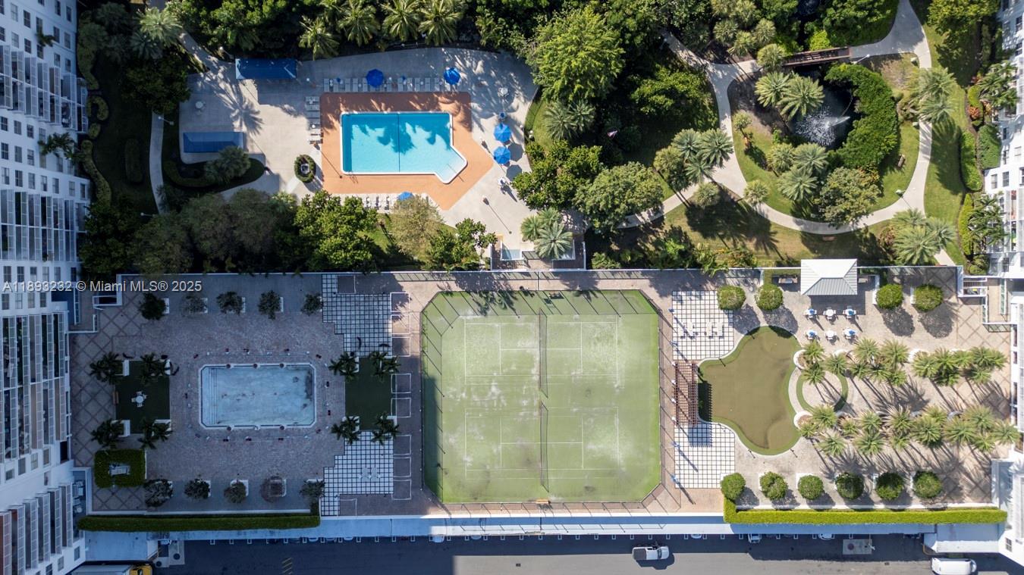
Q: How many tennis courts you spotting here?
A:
2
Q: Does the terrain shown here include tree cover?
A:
Yes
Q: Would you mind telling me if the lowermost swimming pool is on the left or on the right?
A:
left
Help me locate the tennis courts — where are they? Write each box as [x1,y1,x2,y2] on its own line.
[422,291,660,396]
[423,396,661,503]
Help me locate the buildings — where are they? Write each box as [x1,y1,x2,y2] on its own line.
[979,0,1024,554]
[795,259,858,295]
[0,0,102,575]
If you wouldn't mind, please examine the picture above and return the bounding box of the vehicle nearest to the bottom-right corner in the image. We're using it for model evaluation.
[929,555,972,574]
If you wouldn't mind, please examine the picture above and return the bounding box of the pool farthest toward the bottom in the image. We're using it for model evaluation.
[199,363,316,429]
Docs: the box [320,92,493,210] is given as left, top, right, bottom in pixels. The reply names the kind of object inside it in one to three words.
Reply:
swimming pool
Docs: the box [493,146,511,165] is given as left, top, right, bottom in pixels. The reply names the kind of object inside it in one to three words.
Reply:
umbrella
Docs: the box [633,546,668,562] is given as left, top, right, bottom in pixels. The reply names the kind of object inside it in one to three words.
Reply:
vehicle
